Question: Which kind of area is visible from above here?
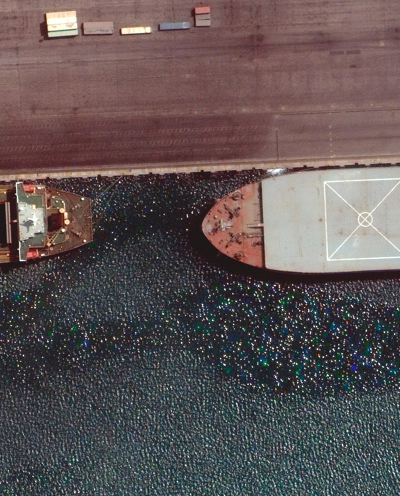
port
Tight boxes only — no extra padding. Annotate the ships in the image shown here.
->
[0,182,92,263]
[202,164,400,272]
